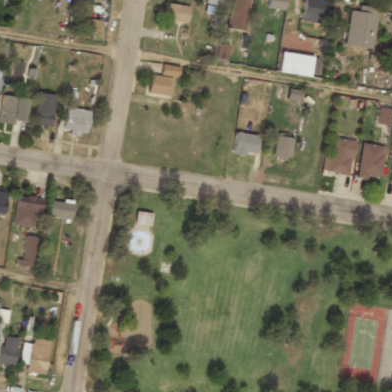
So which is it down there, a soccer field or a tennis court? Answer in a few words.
tennis court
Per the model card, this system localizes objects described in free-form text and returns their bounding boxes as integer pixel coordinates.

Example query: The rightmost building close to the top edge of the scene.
[346,5,380,48]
